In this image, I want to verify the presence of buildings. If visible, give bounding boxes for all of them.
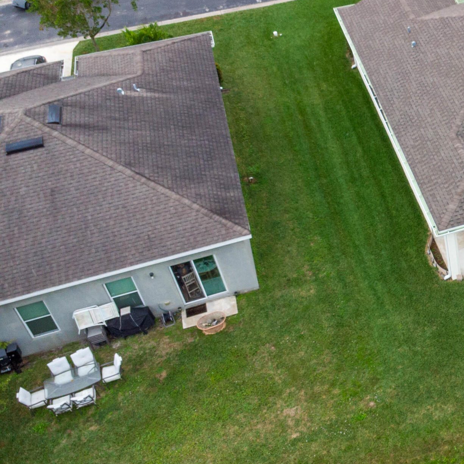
[334,0,464,285]
[0,30,259,356]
